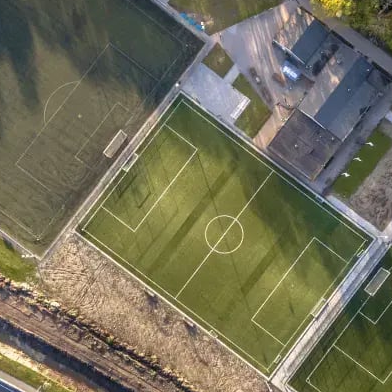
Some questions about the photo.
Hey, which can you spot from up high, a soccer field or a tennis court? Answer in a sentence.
Looking from above, you can make out a soccer field.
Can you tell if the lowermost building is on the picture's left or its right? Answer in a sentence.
You can find the lowermost building on the right side of the picture.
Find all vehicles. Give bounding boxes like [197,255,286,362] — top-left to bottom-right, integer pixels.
[281,63,300,80]
[272,71,286,86]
